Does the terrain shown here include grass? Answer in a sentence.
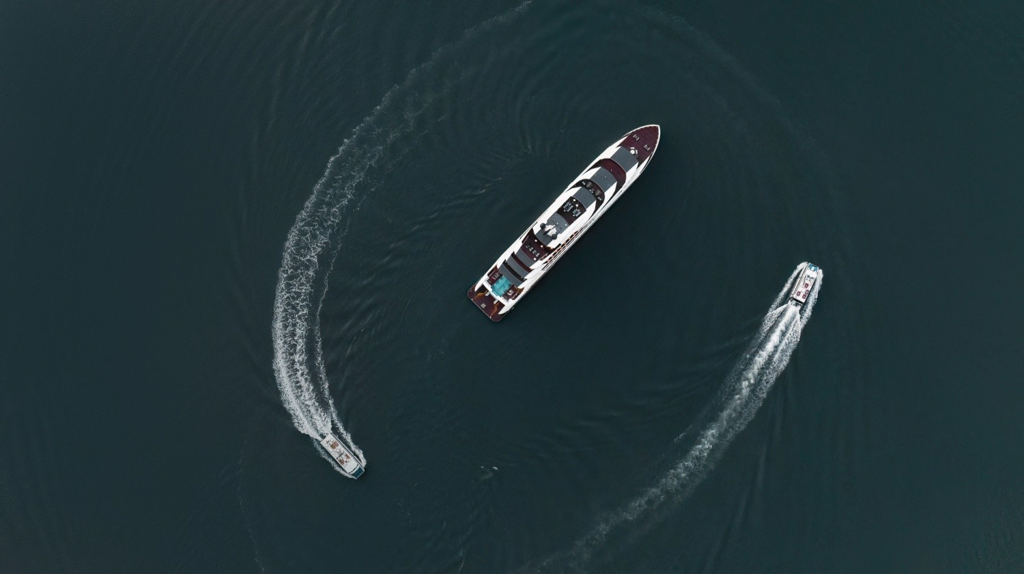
No, there's no grass in this view.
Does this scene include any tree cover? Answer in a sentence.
No, the scene doesn't show any tree cover.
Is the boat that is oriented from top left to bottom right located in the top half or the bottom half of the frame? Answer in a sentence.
Seen from above, the boat that is oriented from top left to bottom right lies in the bottom half of the view.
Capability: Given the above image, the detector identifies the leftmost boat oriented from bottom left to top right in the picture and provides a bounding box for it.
[468,124,661,322]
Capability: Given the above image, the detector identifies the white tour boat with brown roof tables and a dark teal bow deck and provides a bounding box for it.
[320,433,365,479]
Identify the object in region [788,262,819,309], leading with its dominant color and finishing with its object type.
white boat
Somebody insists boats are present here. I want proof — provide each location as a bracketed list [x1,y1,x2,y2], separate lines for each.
[468,124,661,322]
[320,433,365,479]
[788,262,819,309]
